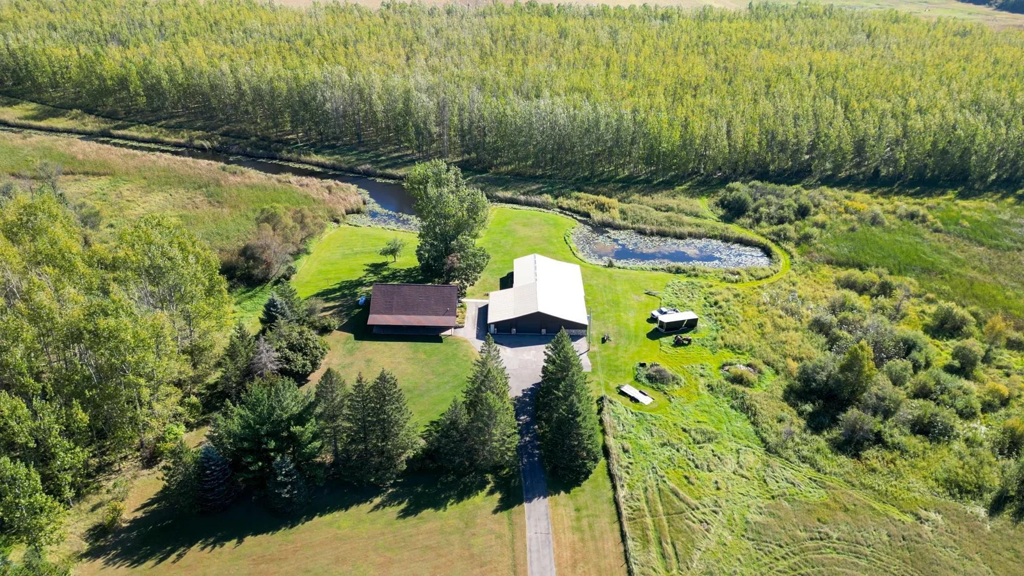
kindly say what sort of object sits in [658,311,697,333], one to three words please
trailer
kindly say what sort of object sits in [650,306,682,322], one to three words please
vehicle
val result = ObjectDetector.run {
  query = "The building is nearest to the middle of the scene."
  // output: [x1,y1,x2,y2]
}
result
[488,253,589,336]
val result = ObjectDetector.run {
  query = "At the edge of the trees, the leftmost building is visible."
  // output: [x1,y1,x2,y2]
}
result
[366,282,460,335]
